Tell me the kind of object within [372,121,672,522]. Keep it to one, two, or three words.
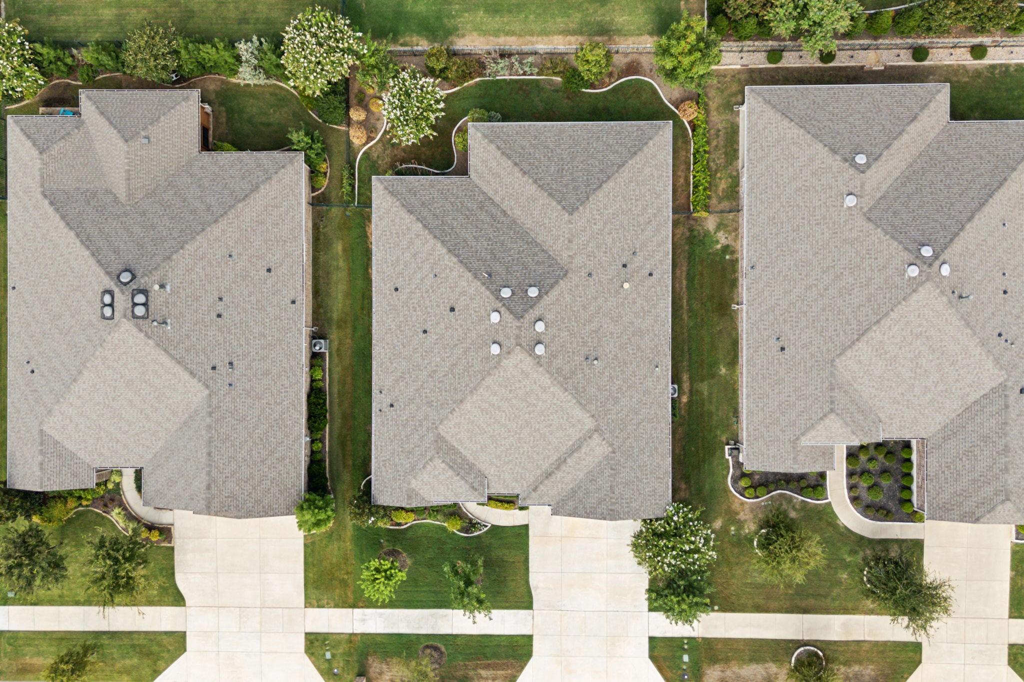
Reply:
house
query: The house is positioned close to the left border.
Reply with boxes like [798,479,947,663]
[7,90,317,519]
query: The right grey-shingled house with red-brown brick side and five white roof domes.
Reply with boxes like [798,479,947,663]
[733,85,1024,526]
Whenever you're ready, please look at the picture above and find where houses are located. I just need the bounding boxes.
[7,90,317,519]
[372,121,672,522]
[733,85,1024,526]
